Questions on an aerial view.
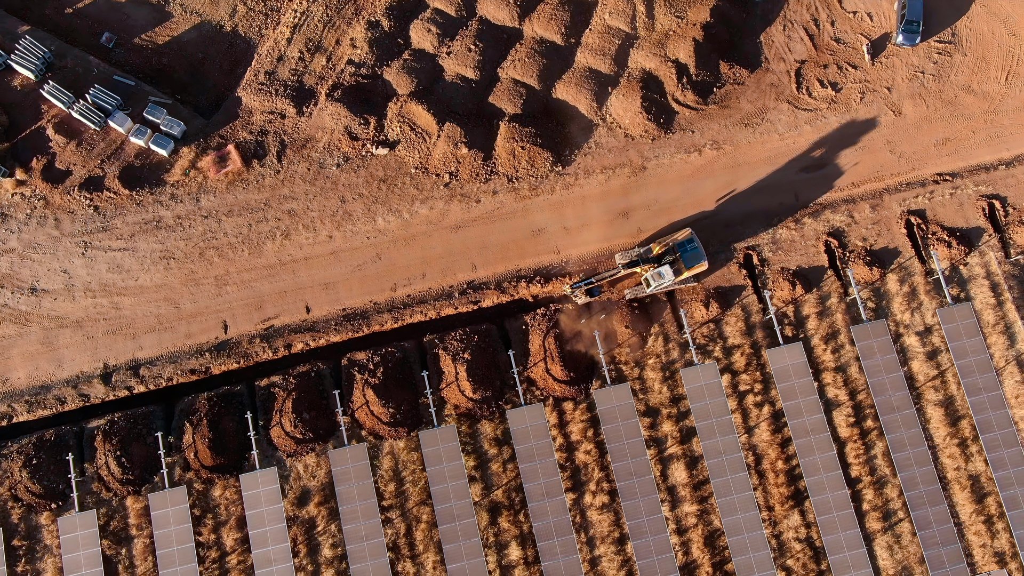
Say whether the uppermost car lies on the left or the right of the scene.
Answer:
right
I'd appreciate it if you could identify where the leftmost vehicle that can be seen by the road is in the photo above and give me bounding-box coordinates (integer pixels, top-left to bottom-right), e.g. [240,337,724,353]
[562,228,710,307]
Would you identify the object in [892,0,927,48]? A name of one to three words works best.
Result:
car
